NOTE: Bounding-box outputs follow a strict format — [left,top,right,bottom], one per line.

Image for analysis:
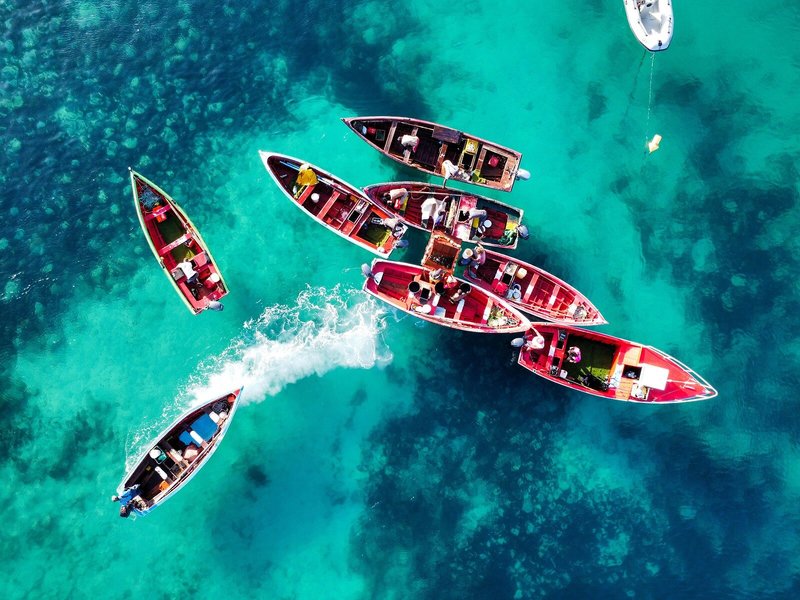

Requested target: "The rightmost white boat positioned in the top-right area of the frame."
[627,0,676,51]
